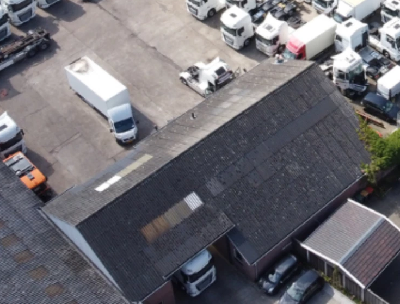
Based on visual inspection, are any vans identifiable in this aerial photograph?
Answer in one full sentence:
Yes, this view includes a van.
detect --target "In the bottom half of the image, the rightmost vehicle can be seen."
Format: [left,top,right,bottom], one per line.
[280,267,329,304]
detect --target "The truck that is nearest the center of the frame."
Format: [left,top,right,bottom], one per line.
[179,54,236,97]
